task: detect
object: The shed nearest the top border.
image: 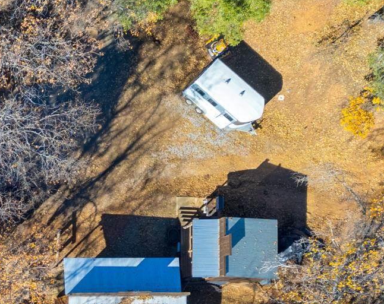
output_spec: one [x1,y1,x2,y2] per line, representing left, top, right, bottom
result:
[174,216,278,279]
